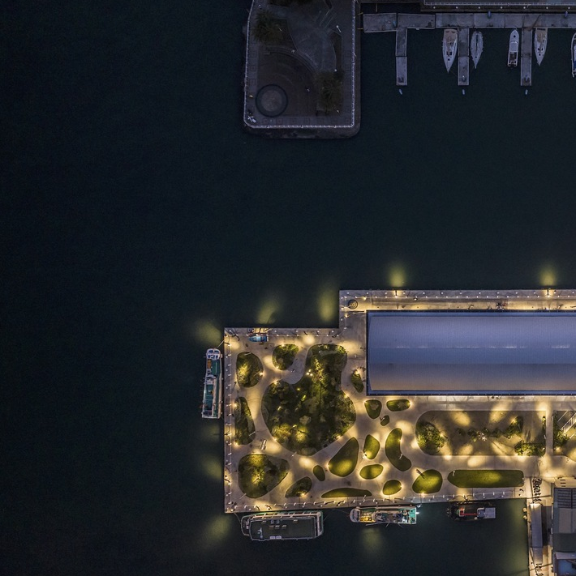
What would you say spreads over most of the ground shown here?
water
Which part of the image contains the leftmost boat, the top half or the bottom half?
bottom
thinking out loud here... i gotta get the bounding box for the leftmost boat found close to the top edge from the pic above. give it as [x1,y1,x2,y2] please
[443,29,456,71]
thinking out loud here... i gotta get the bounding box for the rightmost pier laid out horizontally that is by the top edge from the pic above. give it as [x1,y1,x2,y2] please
[522,13,566,29]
